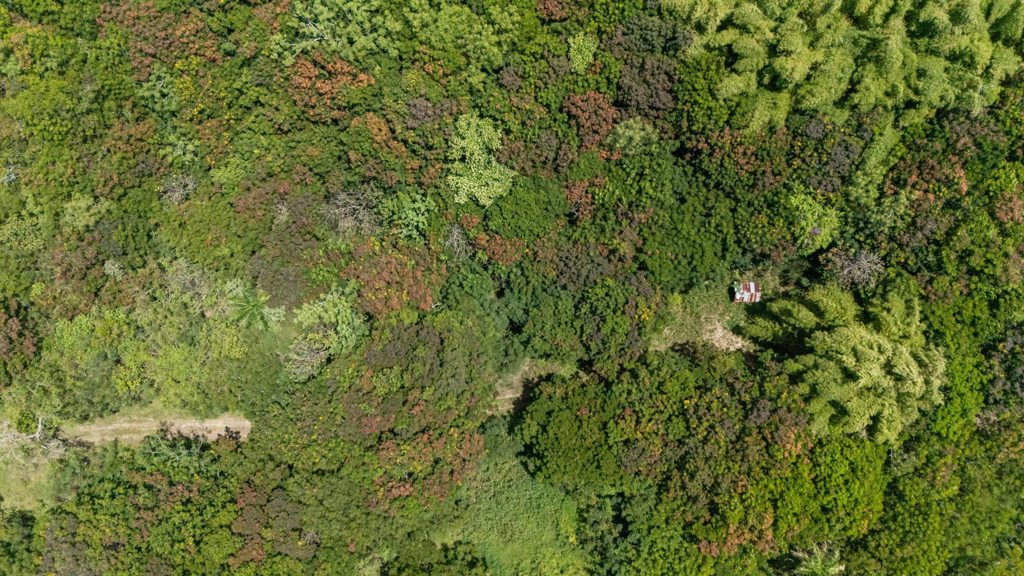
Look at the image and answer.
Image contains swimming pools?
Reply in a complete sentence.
No, there is no swimming pool in the image.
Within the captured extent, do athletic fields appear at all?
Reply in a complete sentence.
No, I can see no athletic field in this picture.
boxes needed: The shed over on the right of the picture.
[730,282,761,302]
